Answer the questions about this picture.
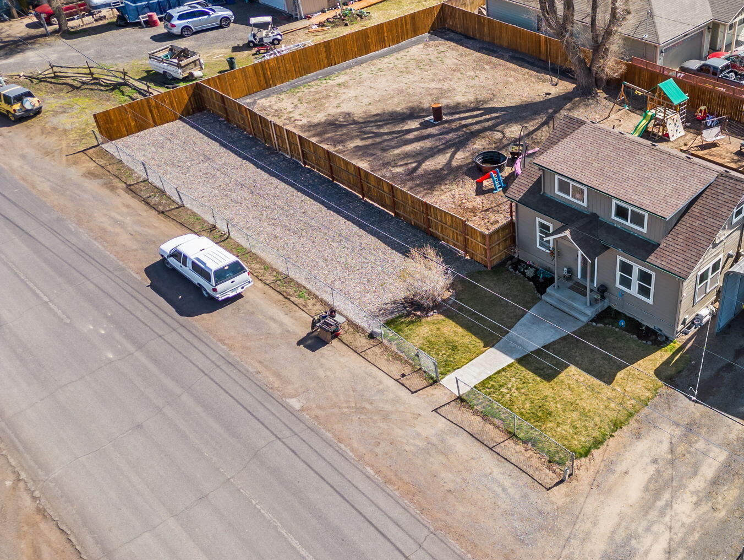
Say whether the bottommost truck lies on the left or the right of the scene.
left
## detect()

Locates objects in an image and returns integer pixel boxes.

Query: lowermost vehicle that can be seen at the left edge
[0,75,43,117]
